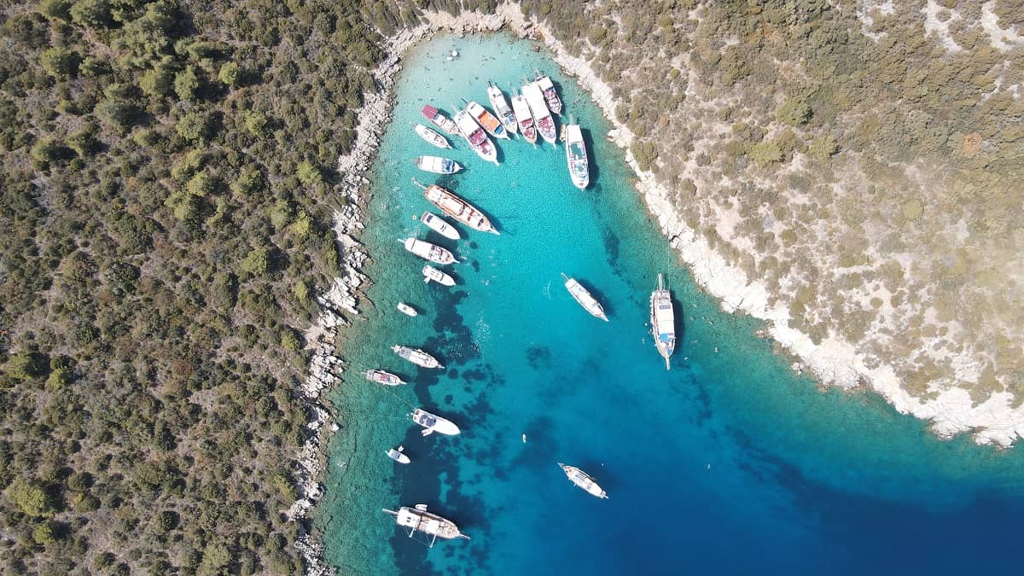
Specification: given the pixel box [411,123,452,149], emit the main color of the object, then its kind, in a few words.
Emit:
white boat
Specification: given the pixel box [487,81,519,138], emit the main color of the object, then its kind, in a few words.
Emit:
white boat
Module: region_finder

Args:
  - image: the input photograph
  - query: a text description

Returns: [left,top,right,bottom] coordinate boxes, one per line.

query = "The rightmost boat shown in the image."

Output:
[649,273,679,370]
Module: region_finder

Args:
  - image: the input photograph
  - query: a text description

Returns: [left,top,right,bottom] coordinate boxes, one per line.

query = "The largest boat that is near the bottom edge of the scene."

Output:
[382,508,470,548]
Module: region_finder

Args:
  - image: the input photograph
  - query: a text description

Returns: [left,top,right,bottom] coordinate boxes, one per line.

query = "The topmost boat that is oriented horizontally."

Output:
[412,155,463,175]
